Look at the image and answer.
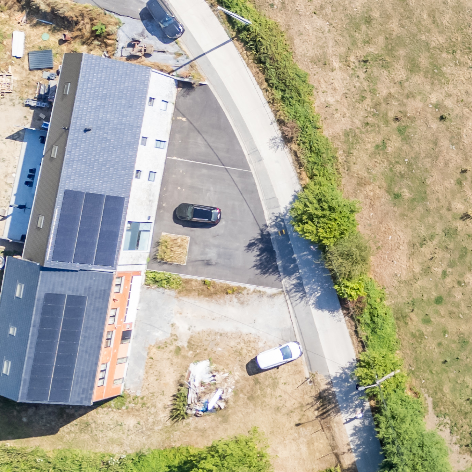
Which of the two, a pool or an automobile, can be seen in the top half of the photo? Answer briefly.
automobile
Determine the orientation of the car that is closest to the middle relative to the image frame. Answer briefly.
from left to right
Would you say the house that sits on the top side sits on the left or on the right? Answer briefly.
left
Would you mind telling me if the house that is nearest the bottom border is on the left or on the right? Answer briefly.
left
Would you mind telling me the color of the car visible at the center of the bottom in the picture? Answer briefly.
white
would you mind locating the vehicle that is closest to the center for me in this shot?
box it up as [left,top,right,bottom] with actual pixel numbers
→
[175,200,225,227]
